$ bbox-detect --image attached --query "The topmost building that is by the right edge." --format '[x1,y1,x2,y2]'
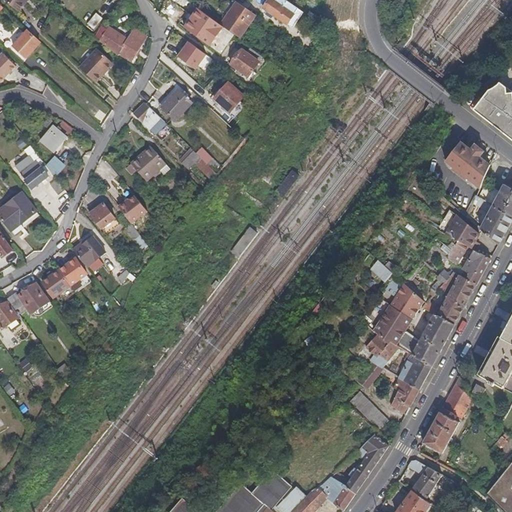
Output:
[473,82,512,140]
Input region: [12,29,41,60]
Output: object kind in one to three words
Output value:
house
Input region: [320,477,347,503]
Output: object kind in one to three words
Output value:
building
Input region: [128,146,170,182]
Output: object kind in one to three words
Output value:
house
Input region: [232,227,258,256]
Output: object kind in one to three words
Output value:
building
